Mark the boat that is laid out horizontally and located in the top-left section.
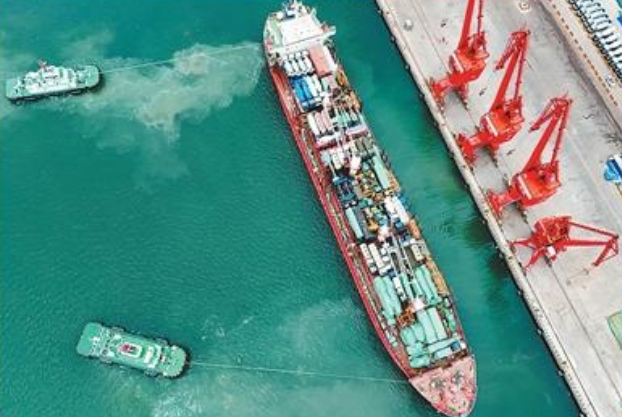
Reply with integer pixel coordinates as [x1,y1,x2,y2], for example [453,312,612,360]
[6,63,101,106]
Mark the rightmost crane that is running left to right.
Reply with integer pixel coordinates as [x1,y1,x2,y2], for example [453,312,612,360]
[507,219,622,274]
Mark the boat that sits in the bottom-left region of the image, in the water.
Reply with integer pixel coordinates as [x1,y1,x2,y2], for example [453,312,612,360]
[77,320,190,378]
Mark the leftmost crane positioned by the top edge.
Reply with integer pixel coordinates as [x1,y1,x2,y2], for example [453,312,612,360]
[425,0,483,104]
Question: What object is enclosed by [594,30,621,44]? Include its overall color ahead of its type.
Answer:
white vehicle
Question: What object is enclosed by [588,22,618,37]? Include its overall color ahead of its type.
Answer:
white vehicle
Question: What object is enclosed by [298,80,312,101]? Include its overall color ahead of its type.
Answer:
blue vehicle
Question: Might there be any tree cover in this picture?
No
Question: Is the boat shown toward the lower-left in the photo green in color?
Yes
